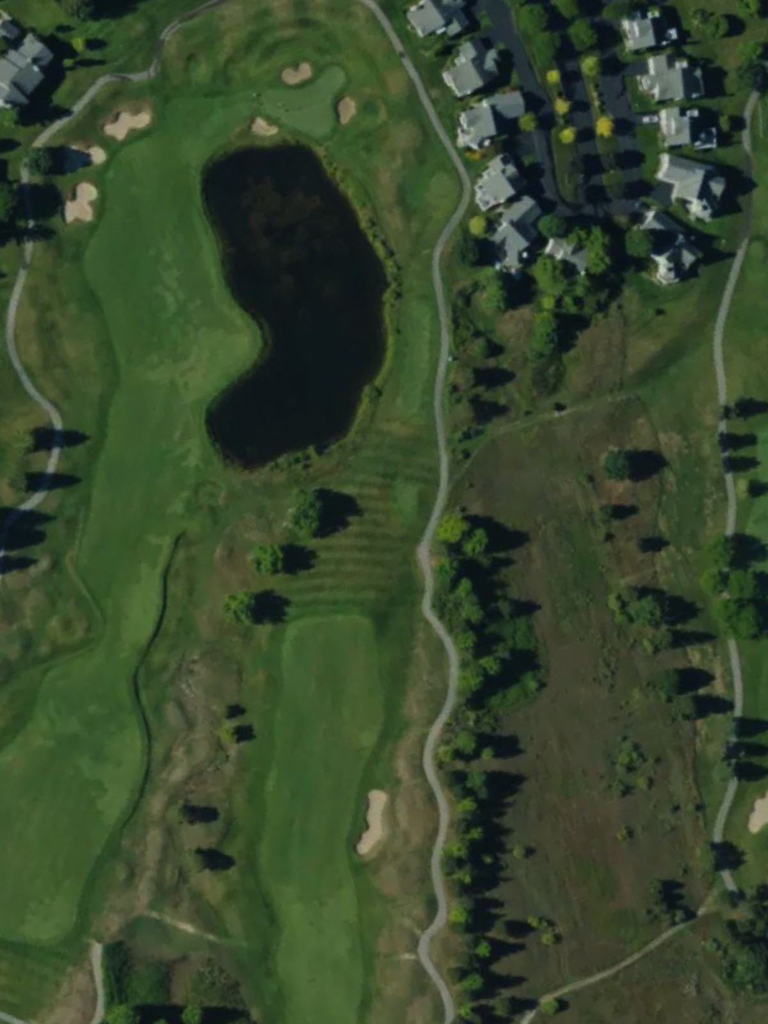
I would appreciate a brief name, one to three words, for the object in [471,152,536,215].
house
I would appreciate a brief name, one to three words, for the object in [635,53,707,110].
house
